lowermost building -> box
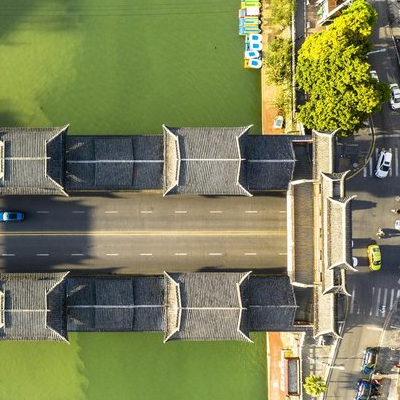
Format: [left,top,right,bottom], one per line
[280,356,300,393]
